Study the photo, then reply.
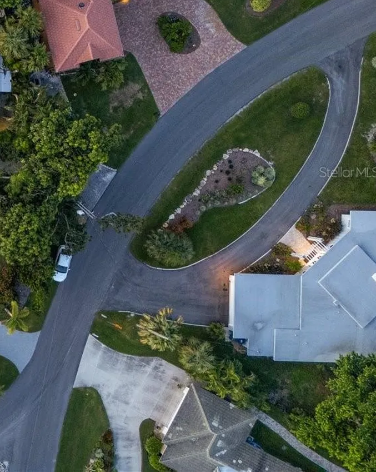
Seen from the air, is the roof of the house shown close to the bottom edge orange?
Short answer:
No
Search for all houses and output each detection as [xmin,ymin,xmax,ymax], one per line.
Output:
[36,0,125,73]
[224,210,376,364]
[155,380,304,472]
